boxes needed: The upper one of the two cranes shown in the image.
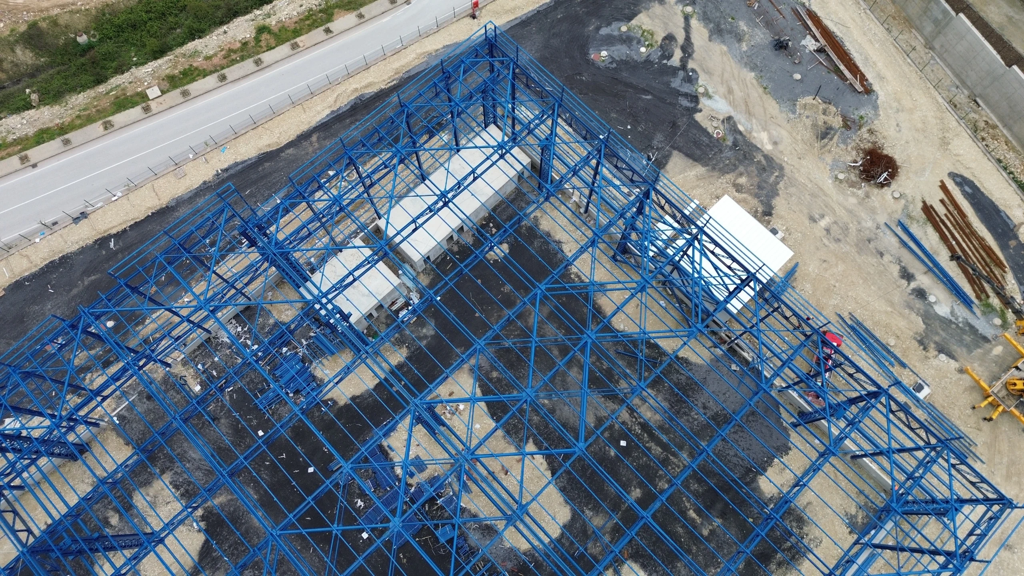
[947,253,1024,357]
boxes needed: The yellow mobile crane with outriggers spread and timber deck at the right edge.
[960,333,1024,434]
